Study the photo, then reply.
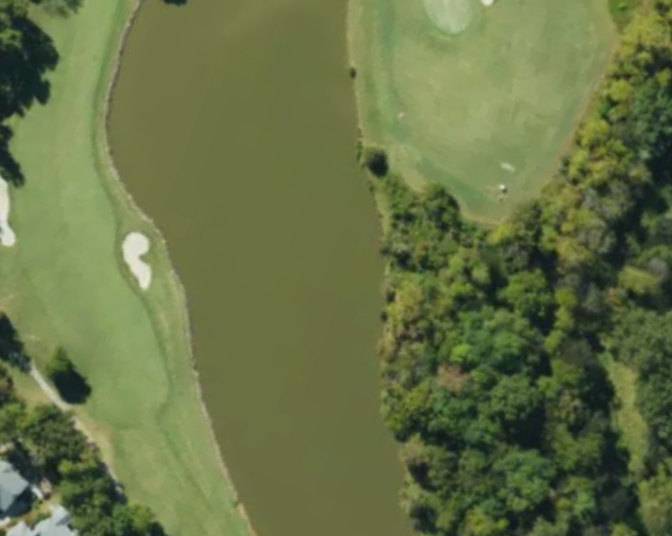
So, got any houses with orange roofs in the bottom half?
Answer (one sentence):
No, the scene shows no house with an orange roof in the bottom half.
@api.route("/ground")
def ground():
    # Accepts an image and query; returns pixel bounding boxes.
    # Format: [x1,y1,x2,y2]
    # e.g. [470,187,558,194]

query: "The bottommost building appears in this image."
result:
[6,503,74,536]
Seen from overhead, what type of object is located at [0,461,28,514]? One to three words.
house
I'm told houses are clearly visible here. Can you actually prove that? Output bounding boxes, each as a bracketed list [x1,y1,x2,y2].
[0,461,28,514]
[6,503,74,536]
